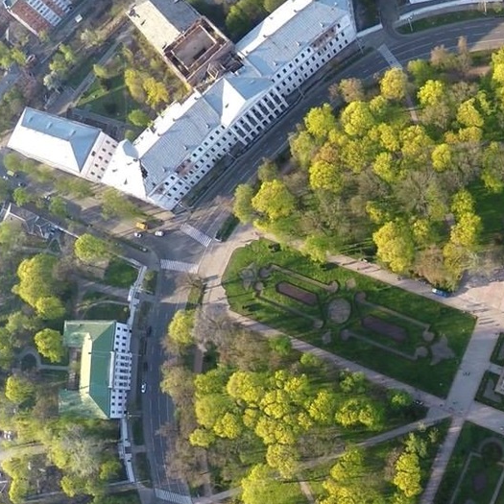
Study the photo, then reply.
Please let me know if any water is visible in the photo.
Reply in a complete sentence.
No, there is no water in the image.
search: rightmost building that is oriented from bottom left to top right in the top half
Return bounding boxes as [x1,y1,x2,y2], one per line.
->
[94,0,354,212]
